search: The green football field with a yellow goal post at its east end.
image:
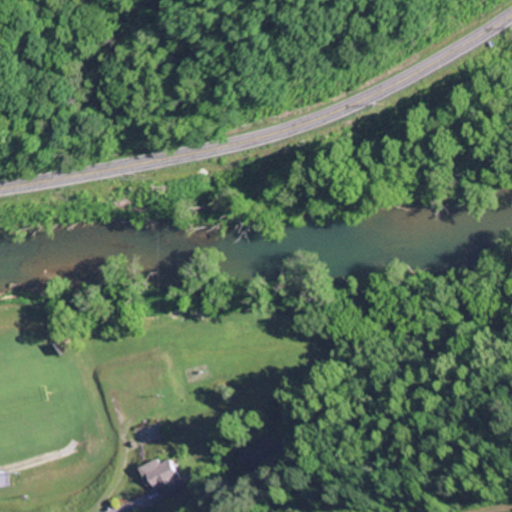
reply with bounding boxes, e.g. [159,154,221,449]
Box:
[0,331,90,465]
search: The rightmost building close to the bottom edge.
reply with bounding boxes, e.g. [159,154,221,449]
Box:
[138,460,179,488]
